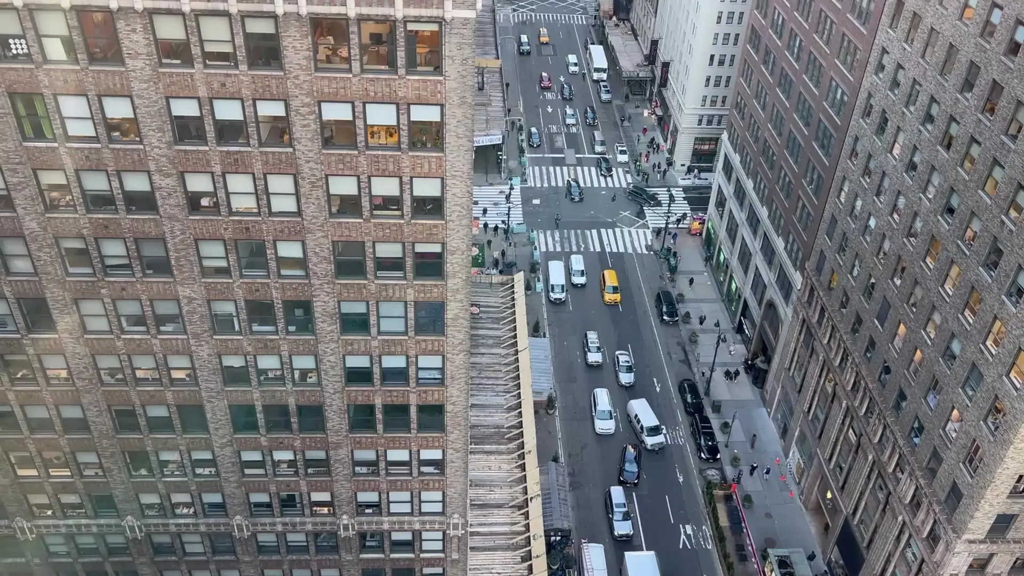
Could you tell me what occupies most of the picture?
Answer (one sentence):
The largest share of the image is taken up by buildings.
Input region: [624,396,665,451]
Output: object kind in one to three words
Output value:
van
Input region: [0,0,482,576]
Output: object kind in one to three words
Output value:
building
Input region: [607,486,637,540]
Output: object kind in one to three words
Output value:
car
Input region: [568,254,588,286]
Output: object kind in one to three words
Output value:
vehicle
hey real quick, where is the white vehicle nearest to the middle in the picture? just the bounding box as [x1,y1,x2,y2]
[545,257,567,302]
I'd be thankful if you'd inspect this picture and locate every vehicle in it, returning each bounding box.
[607,486,637,540]
[624,396,665,451]
[539,74,552,89]
[590,131,607,154]
[538,29,550,44]
[617,443,642,487]
[655,289,680,324]
[566,56,580,74]
[600,271,620,305]
[689,415,721,461]
[527,128,542,147]
[564,177,583,202]
[583,106,598,125]
[568,254,588,286]
[582,330,604,365]
[676,379,705,417]
[621,551,660,576]
[579,37,592,51]
[562,108,577,126]
[587,45,610,84]
[623,182,661,206]
[597,84,612,102]
[613,143,629,163]
[595,156,614,177]
[610,350,634,387]
[559,84,574,100]
[519,38,531,55]
[590,392,616,435]
[545,257,567,302]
